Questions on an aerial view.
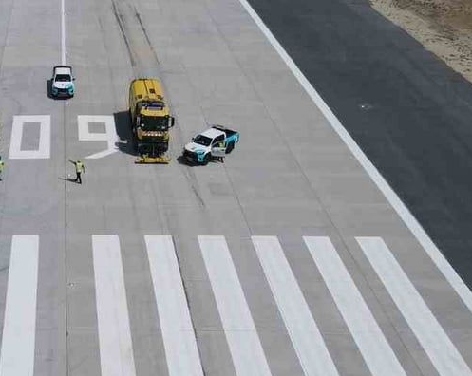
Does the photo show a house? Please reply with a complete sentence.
No, no house can be seen from above.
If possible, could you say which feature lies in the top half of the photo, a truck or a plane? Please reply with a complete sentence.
What appears in the top half of the photo is a truck.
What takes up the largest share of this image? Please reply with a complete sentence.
The scene is dominated by paved ground.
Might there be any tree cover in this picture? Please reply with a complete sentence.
No, the picture contains no tree cover.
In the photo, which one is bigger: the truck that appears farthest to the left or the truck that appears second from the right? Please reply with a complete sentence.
The truck that appears second from the right takes up more space than the truck that appears farthest to the left does.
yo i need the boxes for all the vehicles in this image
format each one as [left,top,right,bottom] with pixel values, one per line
[183,125,238,161]
[132,79,173,164]
[50,66,75,95]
